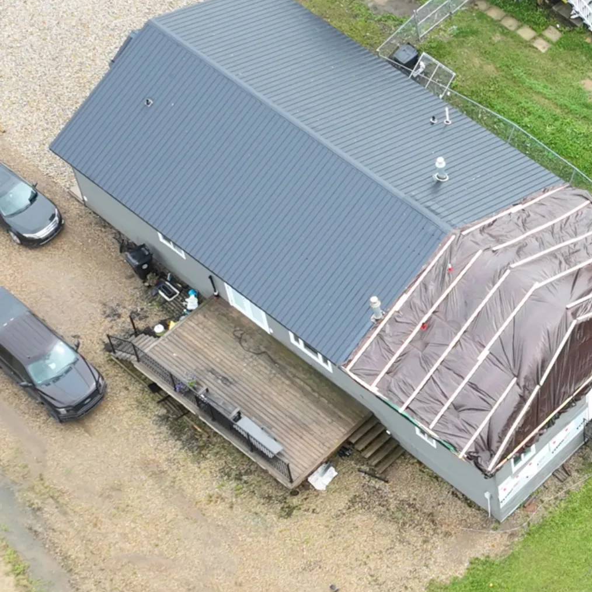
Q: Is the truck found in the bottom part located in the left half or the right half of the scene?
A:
left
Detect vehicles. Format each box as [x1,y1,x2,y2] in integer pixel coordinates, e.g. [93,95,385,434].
[0,290,110,424]
[0,162,65,253]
